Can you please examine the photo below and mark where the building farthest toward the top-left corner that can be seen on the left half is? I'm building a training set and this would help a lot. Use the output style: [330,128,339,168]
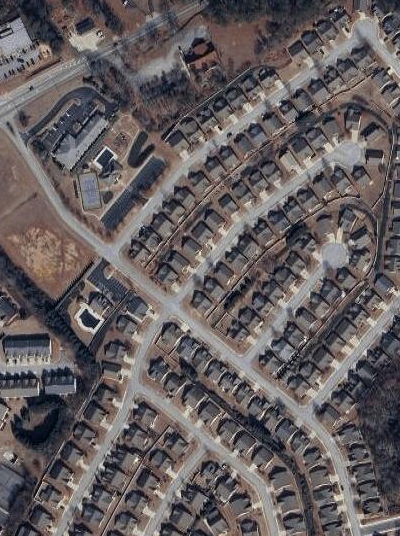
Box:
[0,19,32,59]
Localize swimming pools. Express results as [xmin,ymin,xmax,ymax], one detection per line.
[74,303,105,335]
[94,146,118,171]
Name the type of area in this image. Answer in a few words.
residential area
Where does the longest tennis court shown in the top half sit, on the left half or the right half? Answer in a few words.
left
